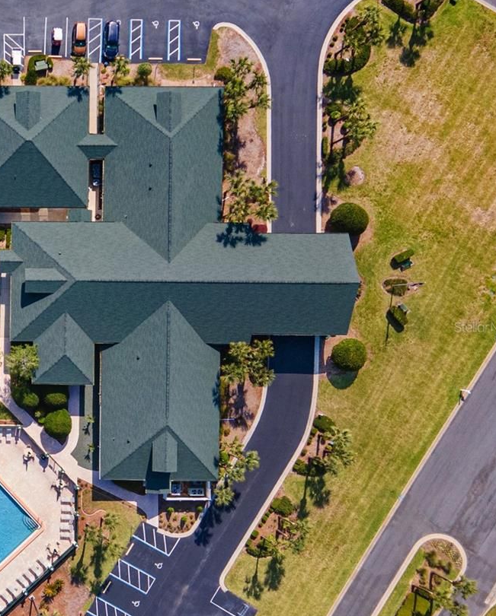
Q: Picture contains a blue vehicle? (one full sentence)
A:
Yes, the image includes a blue vehicle.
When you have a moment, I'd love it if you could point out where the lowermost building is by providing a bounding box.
[0,86,360,492]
